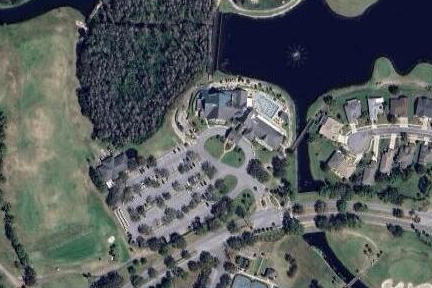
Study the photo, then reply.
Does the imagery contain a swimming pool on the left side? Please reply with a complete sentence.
No, no swimming pool appears on the left side.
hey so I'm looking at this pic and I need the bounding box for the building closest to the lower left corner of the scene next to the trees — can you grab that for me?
[100,157,132,186]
